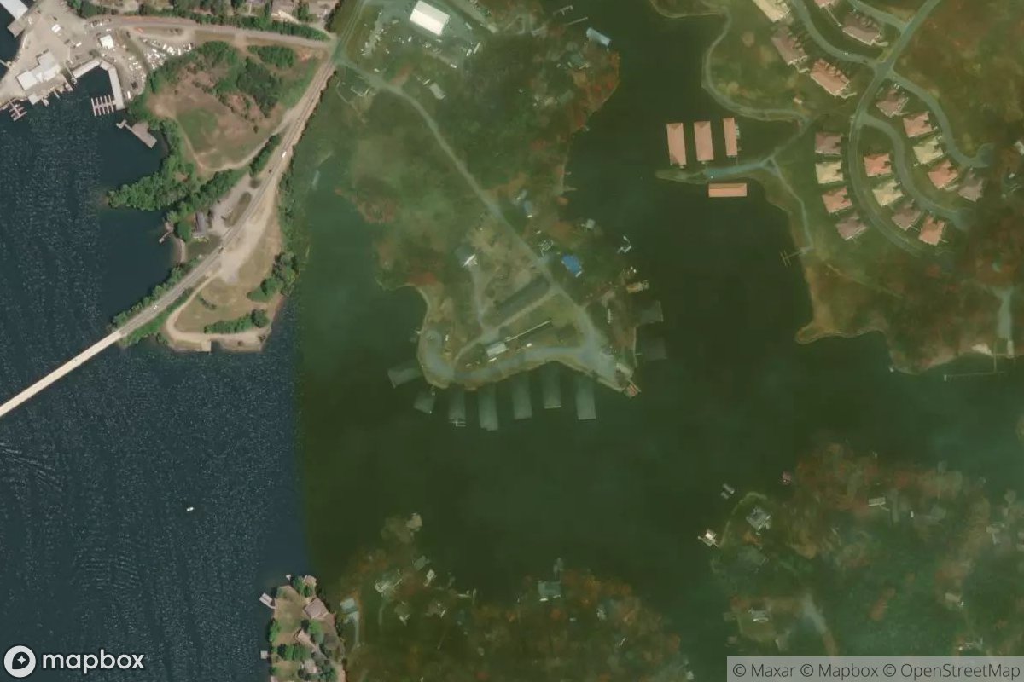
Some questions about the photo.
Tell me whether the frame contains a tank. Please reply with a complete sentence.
No, the frame has no tank in it.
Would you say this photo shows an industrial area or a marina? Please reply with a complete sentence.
The area seen from above is a marina.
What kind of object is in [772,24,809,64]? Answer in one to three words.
house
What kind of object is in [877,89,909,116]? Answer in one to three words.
house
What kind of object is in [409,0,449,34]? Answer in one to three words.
building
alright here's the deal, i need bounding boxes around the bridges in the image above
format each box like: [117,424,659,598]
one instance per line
[0,329,122,417]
